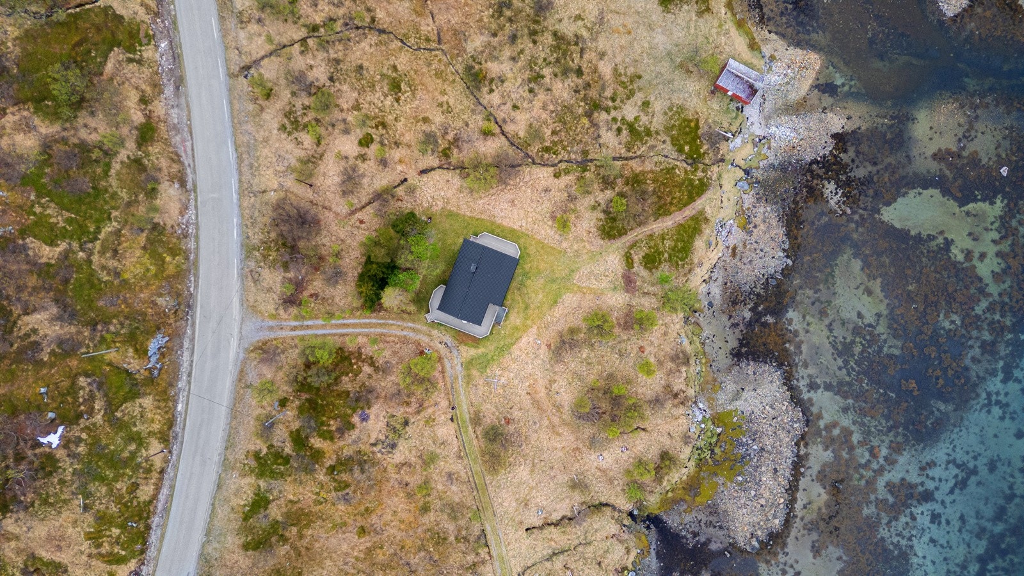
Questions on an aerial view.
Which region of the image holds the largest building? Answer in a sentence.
The largest building sits in the center section of the image.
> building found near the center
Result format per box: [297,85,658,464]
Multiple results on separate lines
[424,232,520,338]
